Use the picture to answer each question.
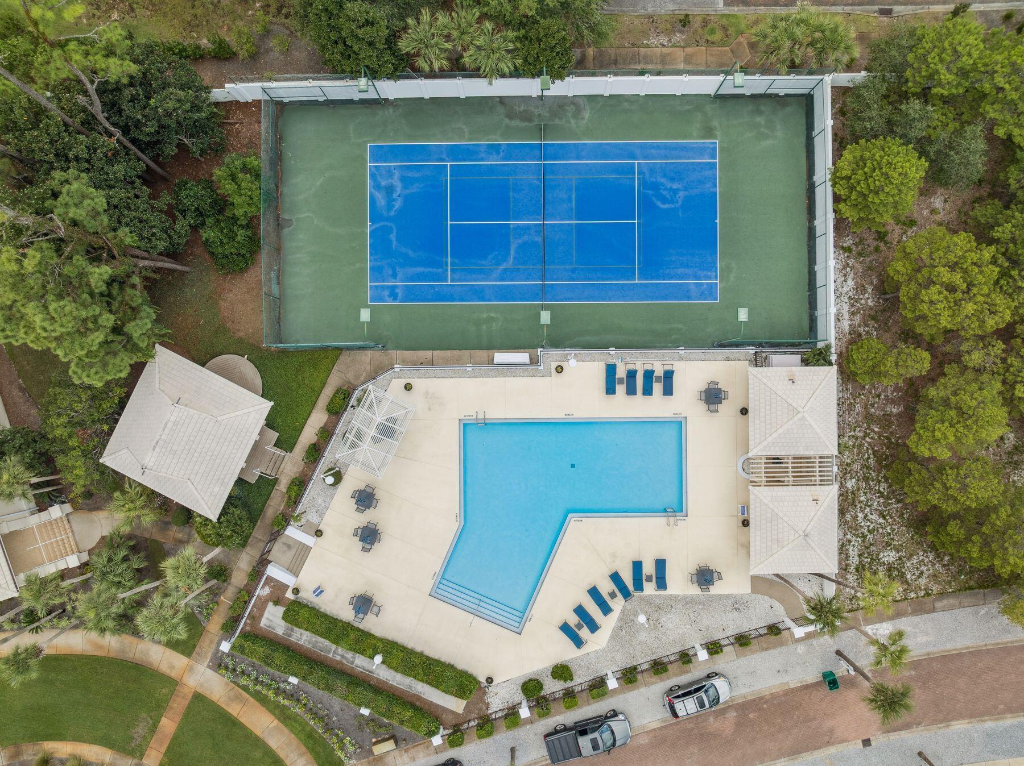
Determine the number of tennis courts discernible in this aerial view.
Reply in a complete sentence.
My tally gives 1 tennis court in this photo.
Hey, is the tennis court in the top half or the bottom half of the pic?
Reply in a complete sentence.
The tennis court sits in the top half of the picture.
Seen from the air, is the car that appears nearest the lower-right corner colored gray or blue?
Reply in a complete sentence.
In this view, the car that appears nearest the lower-right corner is gray.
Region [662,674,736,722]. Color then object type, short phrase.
gray car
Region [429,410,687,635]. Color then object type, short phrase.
blue swimming pool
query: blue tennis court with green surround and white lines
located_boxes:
[273,92,818,349]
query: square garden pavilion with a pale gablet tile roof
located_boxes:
[99,343,274,522]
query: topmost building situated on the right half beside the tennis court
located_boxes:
[747,365,839,459]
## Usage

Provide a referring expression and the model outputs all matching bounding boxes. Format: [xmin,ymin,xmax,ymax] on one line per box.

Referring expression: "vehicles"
[662,674,736,722]
[438,761,462,766]
[544,713,635,766]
